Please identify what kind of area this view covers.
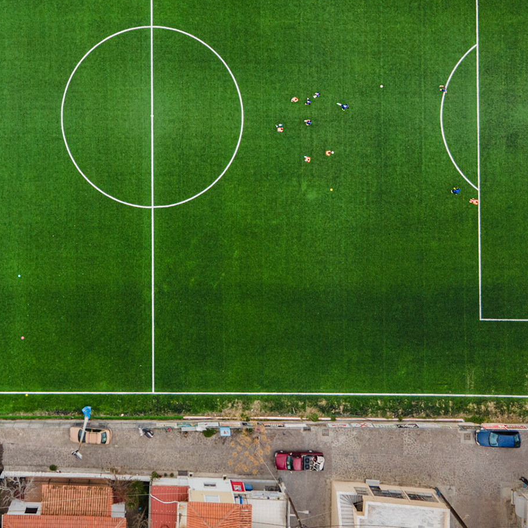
sports ground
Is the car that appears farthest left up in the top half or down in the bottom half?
bottom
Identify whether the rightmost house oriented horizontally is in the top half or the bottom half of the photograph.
bottom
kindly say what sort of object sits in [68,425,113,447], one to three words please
car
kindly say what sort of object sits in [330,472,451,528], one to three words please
house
